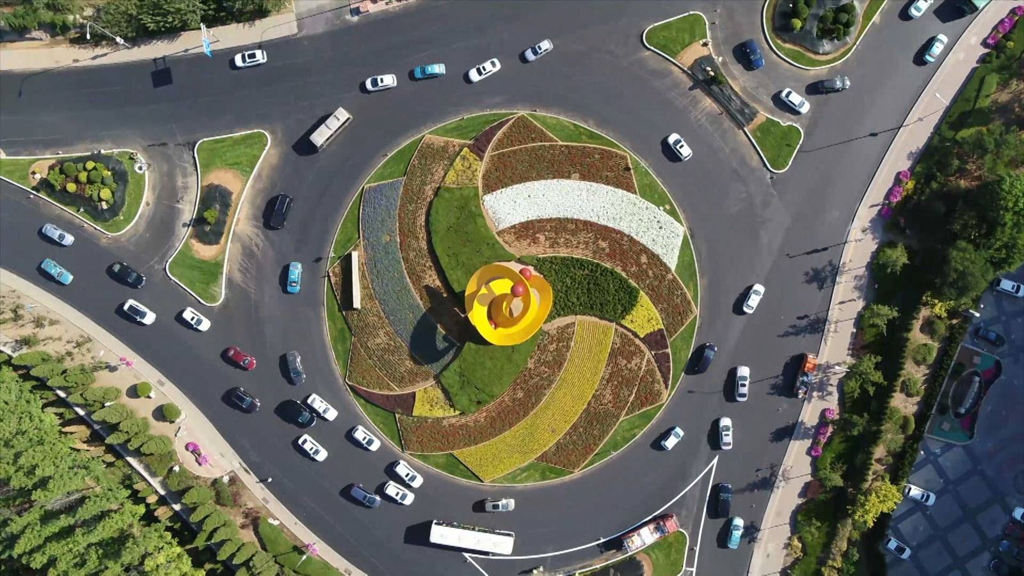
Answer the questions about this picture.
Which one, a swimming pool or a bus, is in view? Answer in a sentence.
It is a bus that can be seen here.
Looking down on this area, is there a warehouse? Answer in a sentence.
No, I can't see a single warehouse in this photo.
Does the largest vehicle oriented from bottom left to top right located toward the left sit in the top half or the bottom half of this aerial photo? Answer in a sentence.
The largest vehicle oriented from bottom left to top right located toward the left sits in the top half of the picture.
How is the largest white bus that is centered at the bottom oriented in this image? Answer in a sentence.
Seen from above, the largest white bus that is centered at the bottom lies from side to side.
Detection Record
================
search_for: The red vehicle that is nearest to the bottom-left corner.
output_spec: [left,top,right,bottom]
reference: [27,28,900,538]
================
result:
[224,346,256,370]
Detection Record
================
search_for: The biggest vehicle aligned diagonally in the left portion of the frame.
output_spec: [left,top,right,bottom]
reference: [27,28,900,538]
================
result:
[307,108,353,152]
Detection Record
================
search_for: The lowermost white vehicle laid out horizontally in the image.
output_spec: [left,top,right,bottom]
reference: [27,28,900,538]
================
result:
[431,520,516,554]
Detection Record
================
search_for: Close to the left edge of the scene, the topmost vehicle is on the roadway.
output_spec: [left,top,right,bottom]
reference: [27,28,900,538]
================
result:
[42,223,75,247]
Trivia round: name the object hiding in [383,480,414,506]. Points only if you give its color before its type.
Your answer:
white car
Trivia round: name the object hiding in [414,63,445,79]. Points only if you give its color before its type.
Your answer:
blue car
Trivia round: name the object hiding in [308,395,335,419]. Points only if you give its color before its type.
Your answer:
white car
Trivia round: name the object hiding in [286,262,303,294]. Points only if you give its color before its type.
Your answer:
blue car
